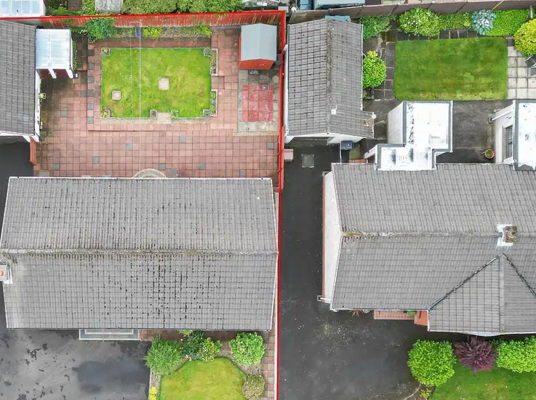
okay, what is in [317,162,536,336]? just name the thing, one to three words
house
